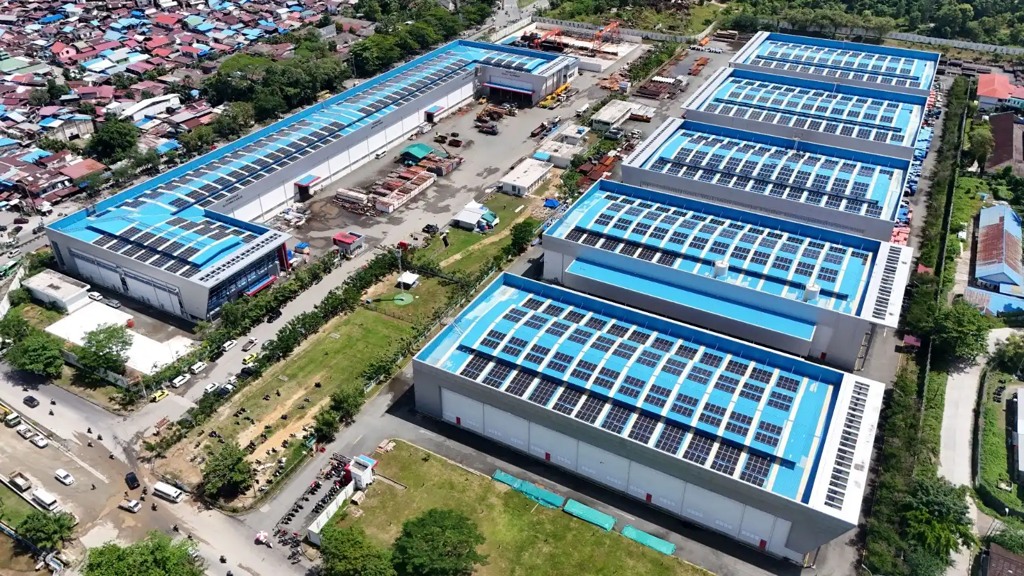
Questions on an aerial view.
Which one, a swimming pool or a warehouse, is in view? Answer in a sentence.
This aerial view contains a warehouse.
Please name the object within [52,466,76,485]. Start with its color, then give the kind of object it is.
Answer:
white car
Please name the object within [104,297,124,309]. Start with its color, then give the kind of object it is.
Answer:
gray vehicle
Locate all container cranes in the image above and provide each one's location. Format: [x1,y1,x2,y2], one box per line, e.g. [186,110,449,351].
[532,16,565,48]
[591,8,623,50]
